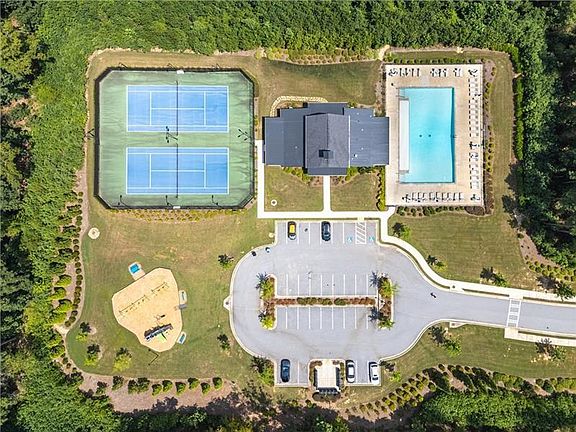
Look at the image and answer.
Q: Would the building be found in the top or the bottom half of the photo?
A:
top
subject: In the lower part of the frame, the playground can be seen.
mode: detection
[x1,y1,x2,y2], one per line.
[111,267,184,353]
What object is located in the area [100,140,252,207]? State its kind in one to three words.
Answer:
tennis court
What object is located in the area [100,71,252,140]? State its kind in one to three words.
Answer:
tennis court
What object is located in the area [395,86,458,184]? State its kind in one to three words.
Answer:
swimming pool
